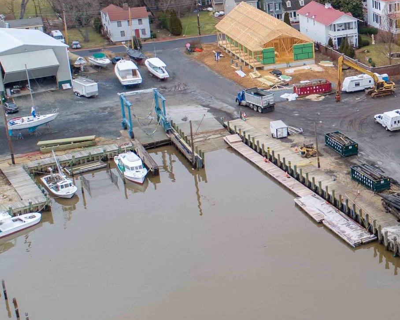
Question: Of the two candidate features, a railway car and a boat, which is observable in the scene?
boat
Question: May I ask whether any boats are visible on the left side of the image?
Yes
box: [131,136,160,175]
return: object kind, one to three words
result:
pier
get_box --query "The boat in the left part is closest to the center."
[109,140,143,180]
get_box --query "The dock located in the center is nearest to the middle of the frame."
[166,119,206,171]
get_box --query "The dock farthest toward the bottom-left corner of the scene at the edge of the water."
[0,143,115,215]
